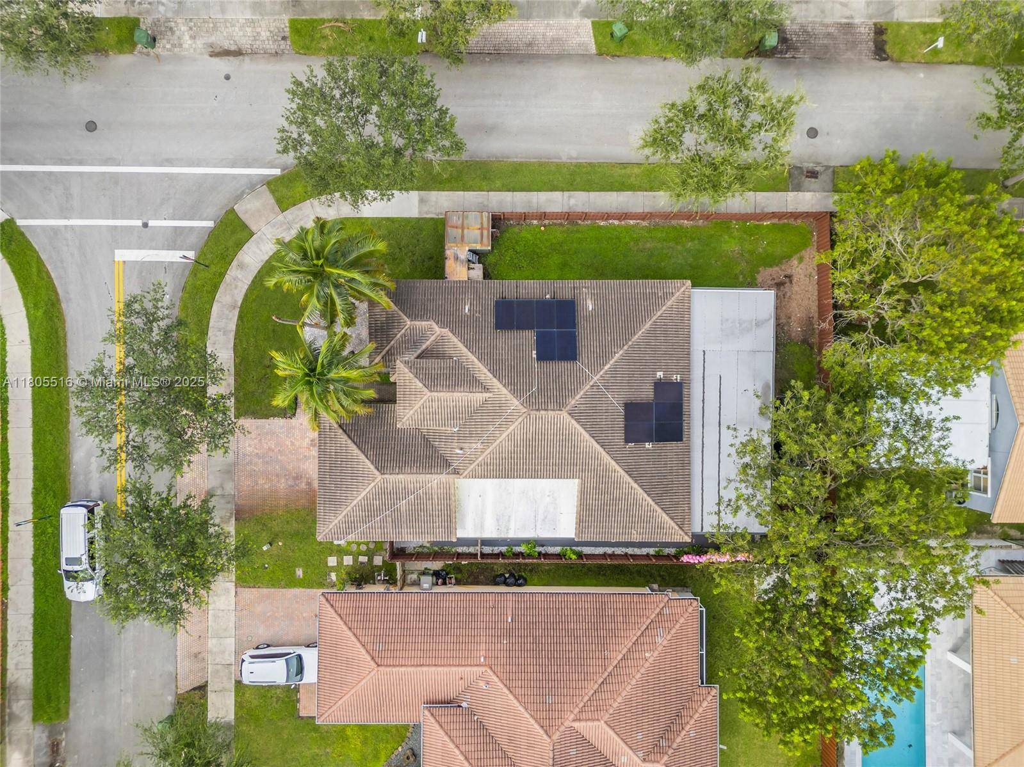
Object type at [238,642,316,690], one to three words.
car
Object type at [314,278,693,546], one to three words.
house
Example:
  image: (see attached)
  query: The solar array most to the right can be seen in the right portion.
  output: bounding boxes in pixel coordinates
[624,374,683,446]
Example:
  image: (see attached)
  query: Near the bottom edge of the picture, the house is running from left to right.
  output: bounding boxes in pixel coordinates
[315,585,720,767]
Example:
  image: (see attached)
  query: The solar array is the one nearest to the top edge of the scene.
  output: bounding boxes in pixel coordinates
[496,295,577,363]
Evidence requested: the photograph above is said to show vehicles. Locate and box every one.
[58,496,113,604]
[238,642,316,690]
